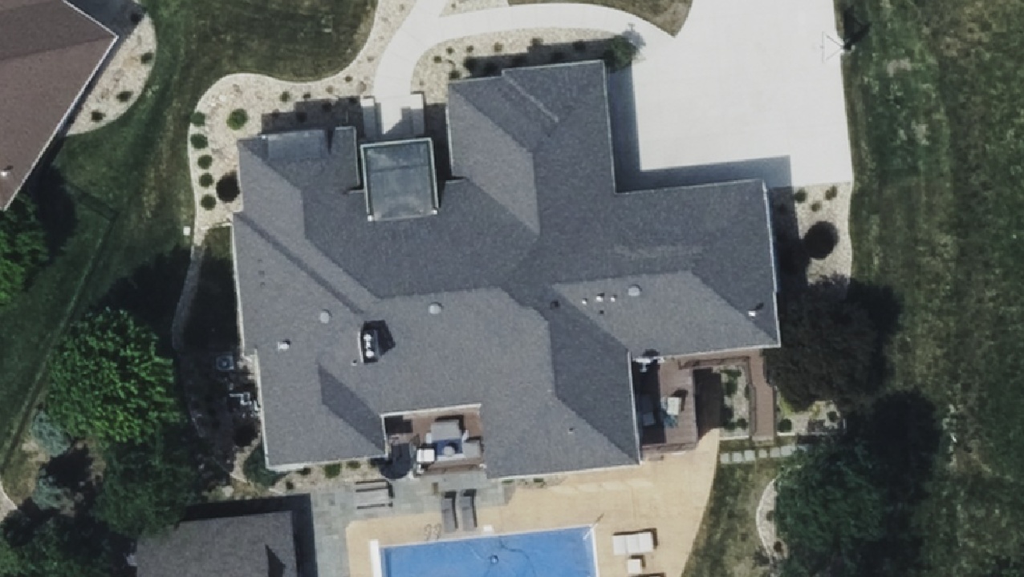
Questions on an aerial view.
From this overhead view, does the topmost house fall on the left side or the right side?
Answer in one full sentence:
You can find the topmost house on the left side of the picture.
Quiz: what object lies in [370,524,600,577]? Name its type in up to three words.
swimming pool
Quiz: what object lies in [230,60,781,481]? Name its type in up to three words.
house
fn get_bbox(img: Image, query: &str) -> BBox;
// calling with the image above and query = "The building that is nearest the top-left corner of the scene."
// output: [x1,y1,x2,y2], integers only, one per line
[0,0,122,216]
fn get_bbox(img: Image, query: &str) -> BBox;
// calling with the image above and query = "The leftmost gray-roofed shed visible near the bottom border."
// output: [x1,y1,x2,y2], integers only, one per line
[133,511,298,577]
